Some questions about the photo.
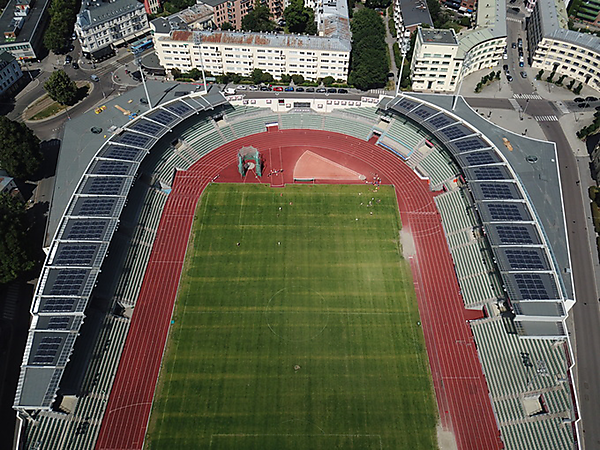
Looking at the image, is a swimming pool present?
No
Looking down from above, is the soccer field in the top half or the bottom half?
bottom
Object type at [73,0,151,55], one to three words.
building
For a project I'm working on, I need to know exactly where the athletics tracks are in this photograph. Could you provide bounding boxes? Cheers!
[98,128,502,450]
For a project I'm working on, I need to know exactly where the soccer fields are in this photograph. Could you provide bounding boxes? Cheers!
[145,184,444,450]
